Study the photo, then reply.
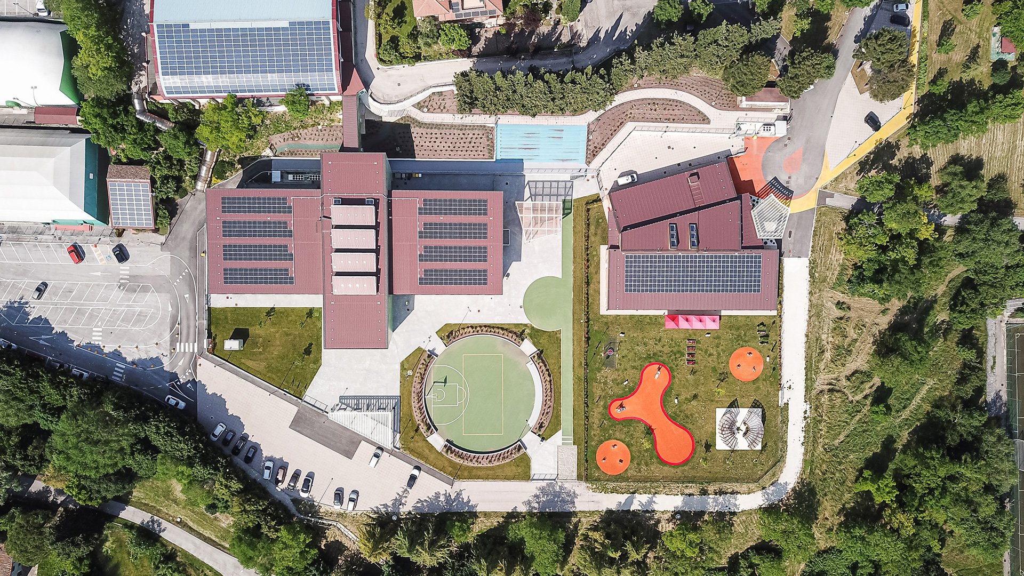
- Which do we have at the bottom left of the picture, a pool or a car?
car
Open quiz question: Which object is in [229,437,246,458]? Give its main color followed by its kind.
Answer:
black car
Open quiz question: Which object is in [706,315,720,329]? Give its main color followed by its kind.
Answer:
pink gazebo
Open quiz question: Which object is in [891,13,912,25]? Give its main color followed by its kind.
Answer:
black vehicle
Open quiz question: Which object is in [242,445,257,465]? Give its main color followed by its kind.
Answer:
black car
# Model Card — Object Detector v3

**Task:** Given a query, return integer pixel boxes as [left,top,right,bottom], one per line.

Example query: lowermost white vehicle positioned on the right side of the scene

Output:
[617,173,639,186]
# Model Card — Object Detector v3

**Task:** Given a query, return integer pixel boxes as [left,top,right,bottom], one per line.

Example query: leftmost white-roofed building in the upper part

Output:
[0,134,108,231]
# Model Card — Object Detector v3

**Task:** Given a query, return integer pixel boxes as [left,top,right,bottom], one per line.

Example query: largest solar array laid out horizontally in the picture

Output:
[158,24,336,93]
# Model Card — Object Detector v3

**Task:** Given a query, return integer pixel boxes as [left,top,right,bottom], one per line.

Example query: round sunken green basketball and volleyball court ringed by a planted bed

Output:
[424,338,536,449]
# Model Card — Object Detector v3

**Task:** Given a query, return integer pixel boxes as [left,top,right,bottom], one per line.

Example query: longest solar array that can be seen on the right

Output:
[625,254,762,293]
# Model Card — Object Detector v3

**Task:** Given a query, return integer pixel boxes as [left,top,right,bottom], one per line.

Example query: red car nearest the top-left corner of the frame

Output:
[67,244,82,264]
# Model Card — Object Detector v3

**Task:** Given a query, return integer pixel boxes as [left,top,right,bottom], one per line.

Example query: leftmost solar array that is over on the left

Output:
[109,183,152,226]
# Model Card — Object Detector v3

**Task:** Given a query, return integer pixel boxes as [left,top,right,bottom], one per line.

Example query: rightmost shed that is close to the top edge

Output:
[991,27,1022,60]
